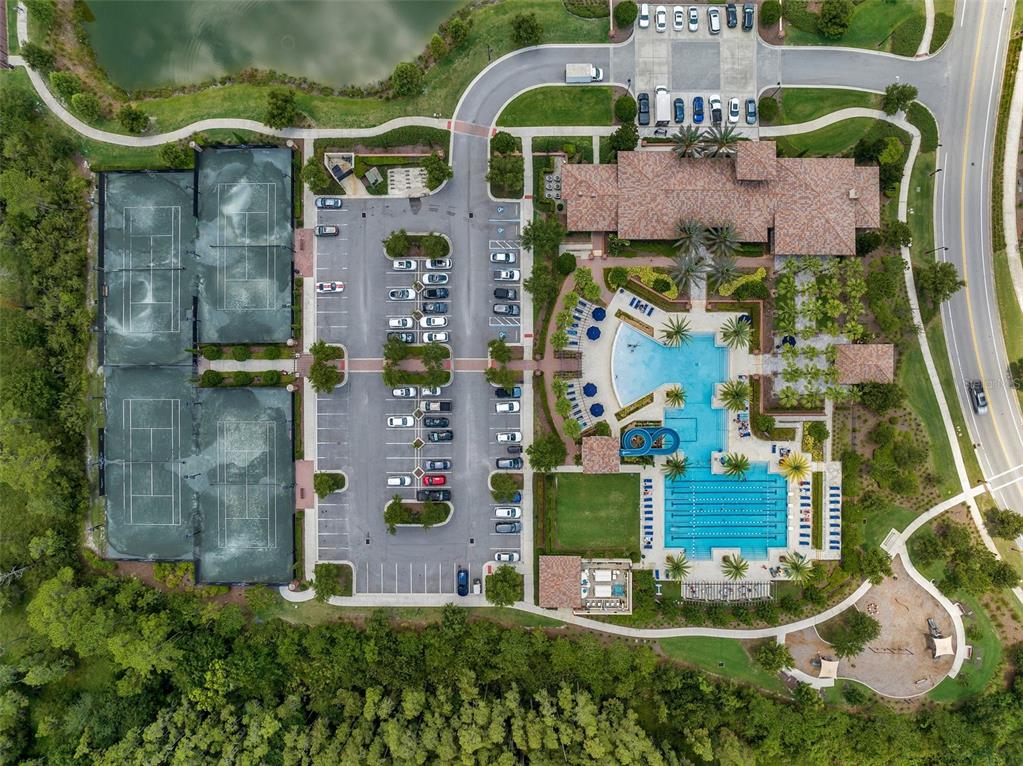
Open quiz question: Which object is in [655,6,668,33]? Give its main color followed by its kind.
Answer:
white vehicle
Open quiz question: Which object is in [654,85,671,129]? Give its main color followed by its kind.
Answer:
white vehicle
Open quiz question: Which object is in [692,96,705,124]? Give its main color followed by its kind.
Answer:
blue vehicle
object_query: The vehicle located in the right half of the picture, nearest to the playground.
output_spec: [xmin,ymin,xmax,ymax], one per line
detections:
[968,381,989,415]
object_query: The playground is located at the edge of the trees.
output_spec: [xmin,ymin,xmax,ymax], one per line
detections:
[785,549,956,697]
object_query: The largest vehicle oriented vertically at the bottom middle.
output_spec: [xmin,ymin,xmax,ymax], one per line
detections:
[456,568,469,594]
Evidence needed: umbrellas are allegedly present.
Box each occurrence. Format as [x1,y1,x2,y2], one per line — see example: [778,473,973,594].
[589,402,604,417]
[737,312,751,326]
[582,383,597,397]
[591,306,606,322]
[585,325,601,340]
[780,334,794,346]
